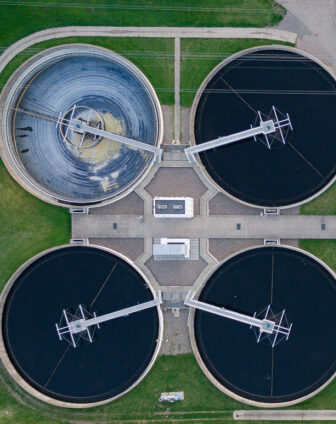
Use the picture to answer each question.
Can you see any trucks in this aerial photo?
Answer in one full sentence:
No, the scene contains no truck.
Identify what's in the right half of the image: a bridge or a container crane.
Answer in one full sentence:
What appears in the right half of the image is a bridge.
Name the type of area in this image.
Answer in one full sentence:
This looks like an industrial area.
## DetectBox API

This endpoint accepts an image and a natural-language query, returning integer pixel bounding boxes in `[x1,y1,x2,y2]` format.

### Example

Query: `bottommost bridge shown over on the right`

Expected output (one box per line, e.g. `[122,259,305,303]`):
[189,287,280,335]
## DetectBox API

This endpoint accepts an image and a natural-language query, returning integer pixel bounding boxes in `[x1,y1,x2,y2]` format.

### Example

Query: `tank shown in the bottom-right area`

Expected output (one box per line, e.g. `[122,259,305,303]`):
[189,244,336,407]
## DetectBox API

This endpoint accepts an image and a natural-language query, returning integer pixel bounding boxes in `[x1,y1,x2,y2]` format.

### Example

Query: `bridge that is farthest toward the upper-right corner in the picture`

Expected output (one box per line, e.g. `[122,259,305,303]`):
[190,117,280,166]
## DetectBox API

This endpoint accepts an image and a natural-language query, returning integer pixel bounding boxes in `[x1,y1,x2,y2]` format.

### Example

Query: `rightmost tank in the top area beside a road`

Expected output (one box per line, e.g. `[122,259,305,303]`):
[190,45,336,208]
